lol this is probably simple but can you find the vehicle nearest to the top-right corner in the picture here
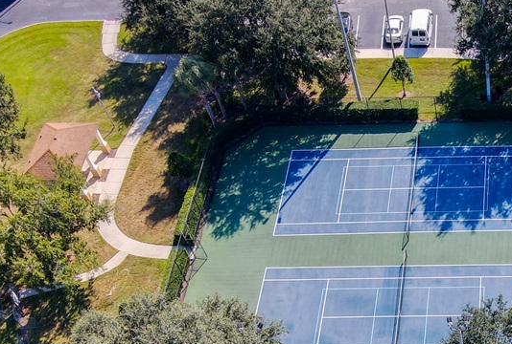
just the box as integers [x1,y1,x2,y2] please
[410,2,432,40]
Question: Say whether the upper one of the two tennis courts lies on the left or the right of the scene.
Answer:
right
